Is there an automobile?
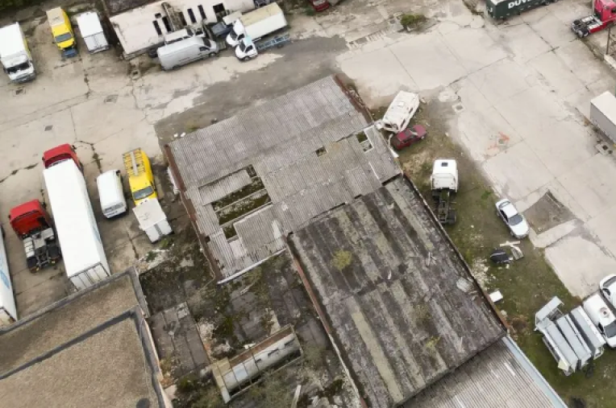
Yes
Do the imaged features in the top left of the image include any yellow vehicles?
Yes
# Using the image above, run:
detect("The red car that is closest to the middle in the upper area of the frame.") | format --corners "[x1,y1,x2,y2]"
[387,126,430,151]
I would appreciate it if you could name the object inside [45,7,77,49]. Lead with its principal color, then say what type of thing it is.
yellow van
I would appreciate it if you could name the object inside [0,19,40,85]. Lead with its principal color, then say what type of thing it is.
white truck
